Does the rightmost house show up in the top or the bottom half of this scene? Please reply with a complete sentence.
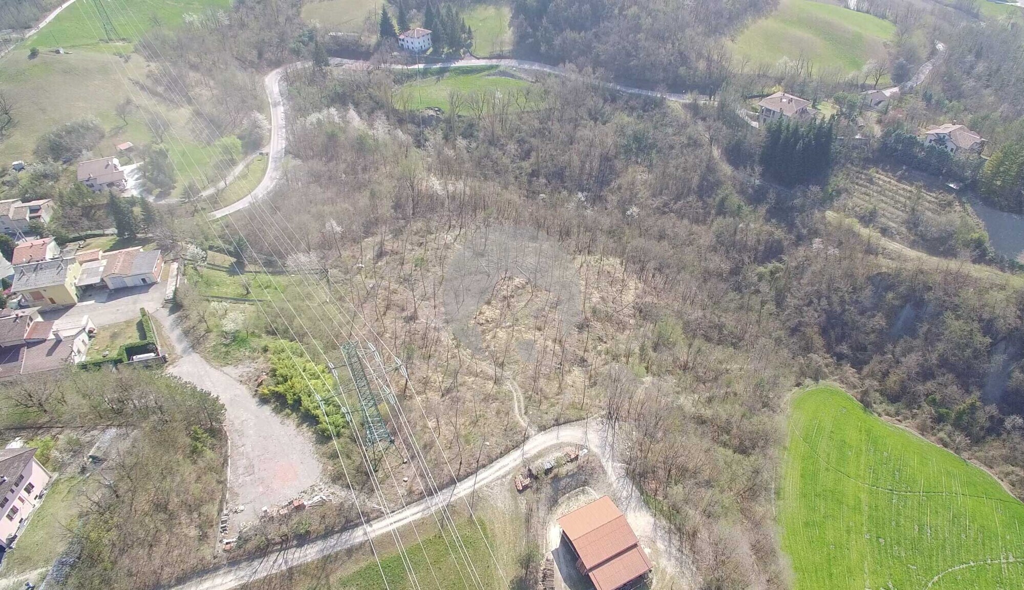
Seen from above, the rightmost house lies in the top half of the view.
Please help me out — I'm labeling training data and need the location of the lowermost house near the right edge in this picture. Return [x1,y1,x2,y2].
[924,125,989,163]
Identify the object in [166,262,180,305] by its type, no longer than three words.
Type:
shed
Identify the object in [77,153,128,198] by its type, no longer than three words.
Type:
house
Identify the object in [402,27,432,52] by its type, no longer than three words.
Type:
house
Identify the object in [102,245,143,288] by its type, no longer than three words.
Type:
barn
